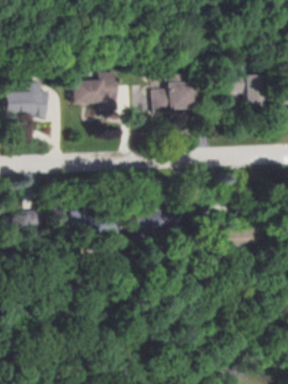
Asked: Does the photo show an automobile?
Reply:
No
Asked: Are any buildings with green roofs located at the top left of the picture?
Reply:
No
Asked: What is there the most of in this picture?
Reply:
trees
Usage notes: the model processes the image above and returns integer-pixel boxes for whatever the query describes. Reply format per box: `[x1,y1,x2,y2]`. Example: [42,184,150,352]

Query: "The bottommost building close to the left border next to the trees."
[12,211,40,227]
